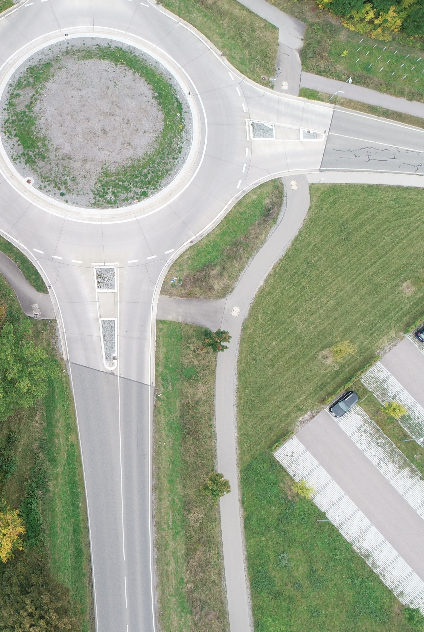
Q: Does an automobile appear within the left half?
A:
No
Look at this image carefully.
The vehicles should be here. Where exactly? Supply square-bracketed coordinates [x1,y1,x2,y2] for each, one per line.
[414,325,424,342]
[329,391,360,417]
